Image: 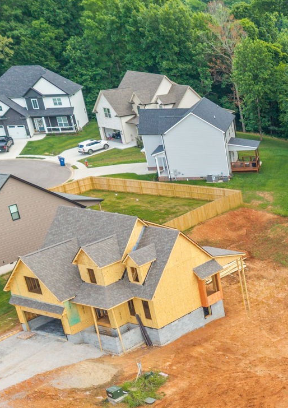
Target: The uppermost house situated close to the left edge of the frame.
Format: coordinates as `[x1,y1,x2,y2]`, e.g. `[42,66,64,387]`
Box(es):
[0,67,93,135]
